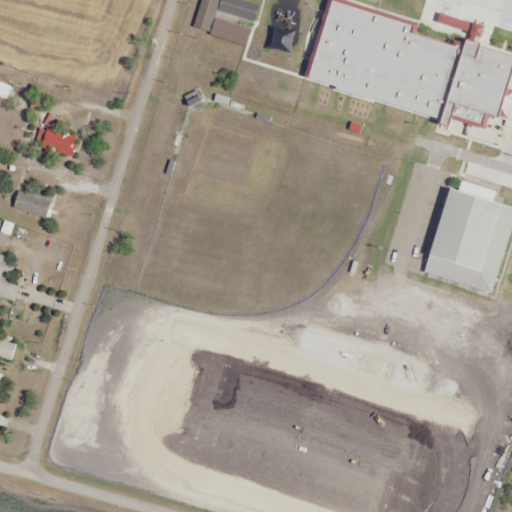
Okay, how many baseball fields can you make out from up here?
1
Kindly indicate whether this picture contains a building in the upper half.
Yes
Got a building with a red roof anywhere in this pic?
Yes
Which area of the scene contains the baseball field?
center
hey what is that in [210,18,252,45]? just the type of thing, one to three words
shed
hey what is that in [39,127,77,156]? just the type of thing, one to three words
house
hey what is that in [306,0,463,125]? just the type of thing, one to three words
building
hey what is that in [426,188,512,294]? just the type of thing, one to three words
building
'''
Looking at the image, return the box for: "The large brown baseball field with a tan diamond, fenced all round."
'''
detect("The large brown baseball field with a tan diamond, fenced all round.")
[138,104,388,316]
